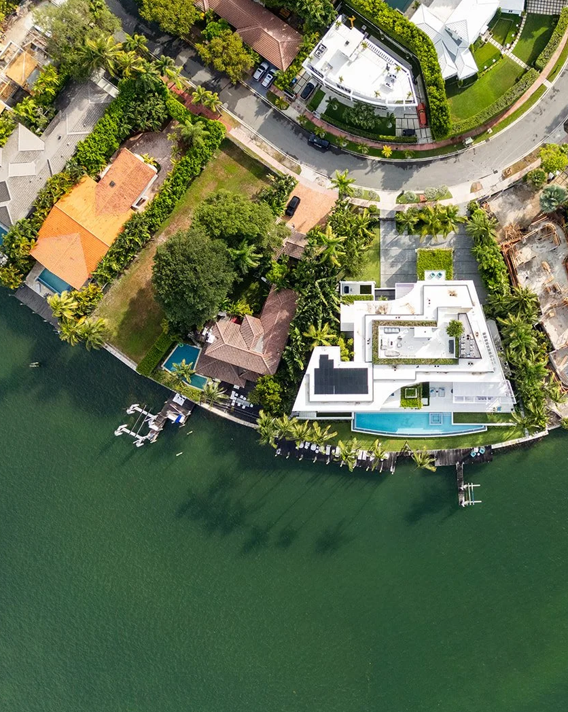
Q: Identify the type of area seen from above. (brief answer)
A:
residential area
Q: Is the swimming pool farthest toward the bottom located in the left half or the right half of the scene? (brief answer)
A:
right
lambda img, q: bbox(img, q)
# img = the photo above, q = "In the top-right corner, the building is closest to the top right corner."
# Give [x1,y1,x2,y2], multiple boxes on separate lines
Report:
[409,0,524,83]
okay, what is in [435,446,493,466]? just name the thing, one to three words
pier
